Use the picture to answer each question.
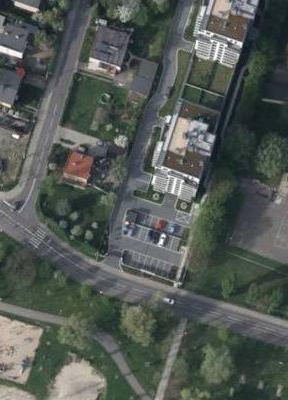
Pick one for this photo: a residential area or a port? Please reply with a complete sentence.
This image shows a residential area.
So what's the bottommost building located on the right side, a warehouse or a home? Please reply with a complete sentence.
What you see as the bottommost building located on the right side is a home.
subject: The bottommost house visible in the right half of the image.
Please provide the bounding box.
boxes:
[153,99,225,202]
